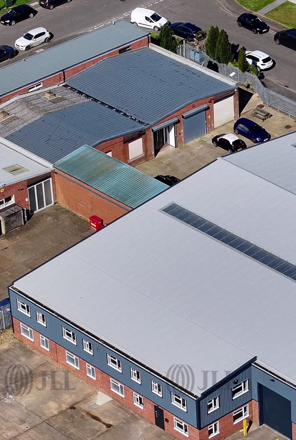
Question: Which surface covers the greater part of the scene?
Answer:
buildings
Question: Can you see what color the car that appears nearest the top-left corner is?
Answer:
black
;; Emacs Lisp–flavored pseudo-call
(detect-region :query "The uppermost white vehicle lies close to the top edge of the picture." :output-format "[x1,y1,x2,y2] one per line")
[130,7,168,29]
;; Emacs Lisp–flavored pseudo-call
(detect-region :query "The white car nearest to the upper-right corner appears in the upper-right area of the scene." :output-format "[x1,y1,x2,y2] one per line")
[245,49,274,71]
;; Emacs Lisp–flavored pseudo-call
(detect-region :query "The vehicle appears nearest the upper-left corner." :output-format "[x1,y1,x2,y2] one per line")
[1,3,34,24]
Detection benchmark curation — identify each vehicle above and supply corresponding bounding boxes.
[211,133,244,152]
[245,49,274,71]
[1,3,34,24]
[0,46,16,61]
[130,7,168,29]
[232,117,268,143]
[236,12,268,33]
[38,0,71,9]
[276,27,296,52]
[171,22,202,41]
[15,27,51,50]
